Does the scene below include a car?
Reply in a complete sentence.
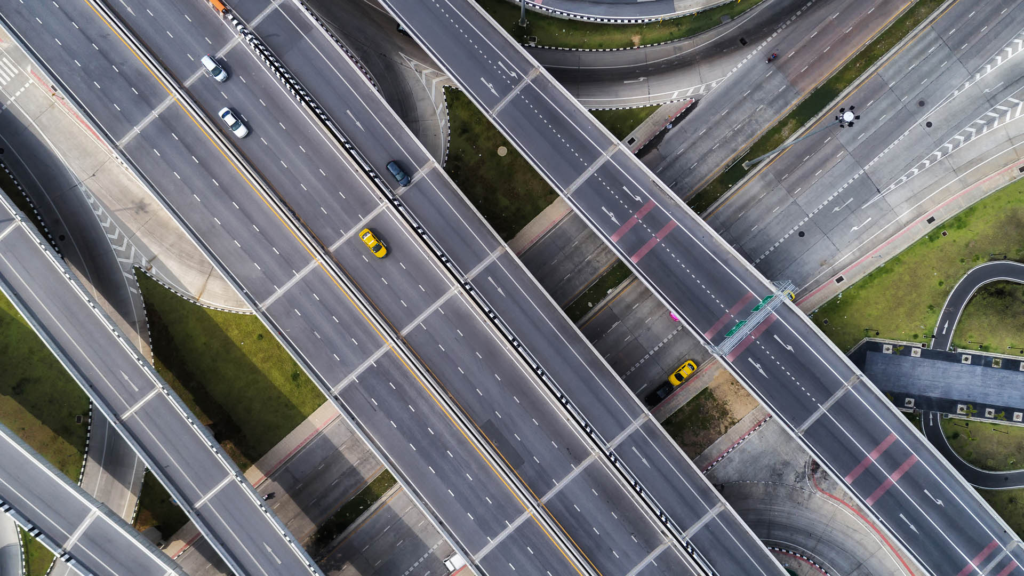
Yes, I can see a car in this picture.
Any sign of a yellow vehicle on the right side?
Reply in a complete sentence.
Yes, the scene does show a yellow vehicle on the right side.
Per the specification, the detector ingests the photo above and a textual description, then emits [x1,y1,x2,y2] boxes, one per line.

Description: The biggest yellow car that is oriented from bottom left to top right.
[667,358,699,387]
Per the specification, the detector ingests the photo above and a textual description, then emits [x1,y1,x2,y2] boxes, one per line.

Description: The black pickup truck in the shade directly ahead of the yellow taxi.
[643,383,676,411]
